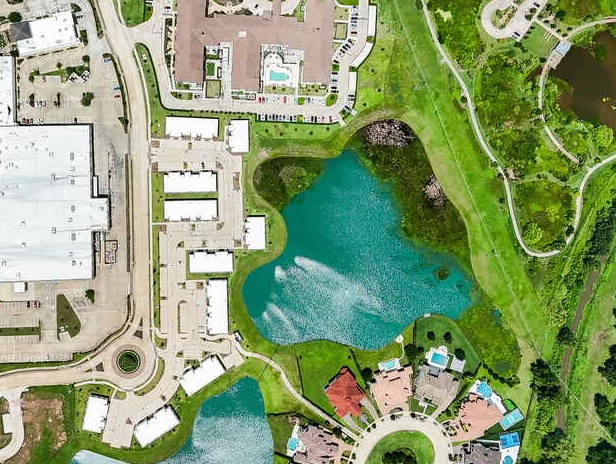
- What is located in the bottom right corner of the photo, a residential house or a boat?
residential house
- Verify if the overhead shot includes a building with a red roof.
Yes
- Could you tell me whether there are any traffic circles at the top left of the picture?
No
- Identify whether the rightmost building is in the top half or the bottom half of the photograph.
top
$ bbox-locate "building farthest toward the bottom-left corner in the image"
[82,393,109,432]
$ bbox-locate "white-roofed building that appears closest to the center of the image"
[244,214,265,250]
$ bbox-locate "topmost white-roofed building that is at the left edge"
[10,10,82,58]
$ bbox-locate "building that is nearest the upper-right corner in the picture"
[546,39,573,69]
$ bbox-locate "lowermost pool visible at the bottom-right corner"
[500,445,520,464]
